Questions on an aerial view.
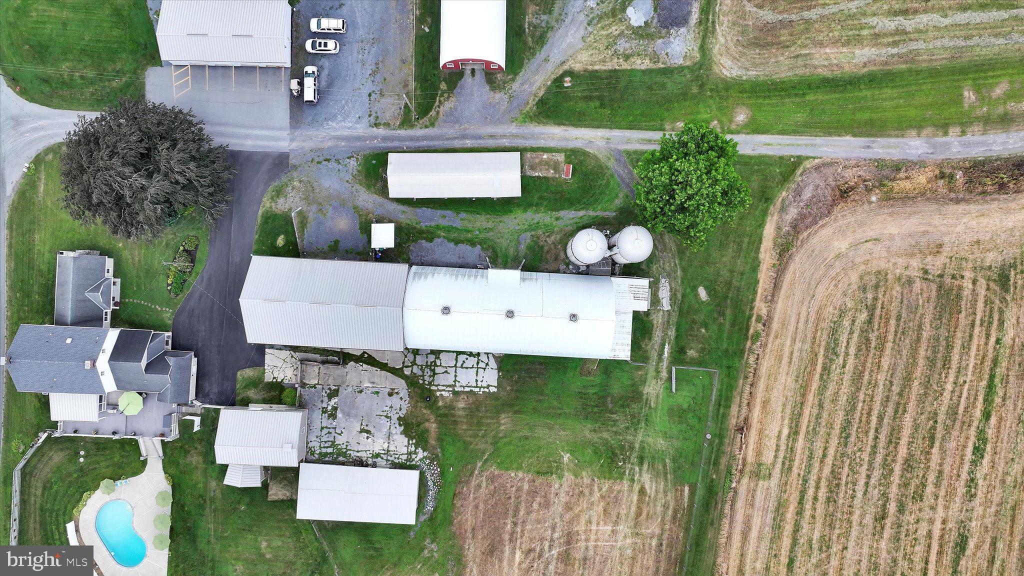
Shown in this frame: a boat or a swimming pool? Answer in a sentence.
The one in the frame is a swimming pool.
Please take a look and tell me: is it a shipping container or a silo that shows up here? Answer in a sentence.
I can see a silo in this picture.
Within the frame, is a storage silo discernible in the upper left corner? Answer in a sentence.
No, in the upper left corner there is no storage silo.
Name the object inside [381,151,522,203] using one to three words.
shed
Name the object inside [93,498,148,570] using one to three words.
swimming pool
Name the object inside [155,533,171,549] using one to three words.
umbrella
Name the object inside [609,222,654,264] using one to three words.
silo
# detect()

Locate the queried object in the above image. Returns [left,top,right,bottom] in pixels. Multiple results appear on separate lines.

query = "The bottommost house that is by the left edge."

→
[0,323,200,424]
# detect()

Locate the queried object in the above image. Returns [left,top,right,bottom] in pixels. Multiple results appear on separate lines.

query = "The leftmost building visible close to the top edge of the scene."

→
[156,0,292,68]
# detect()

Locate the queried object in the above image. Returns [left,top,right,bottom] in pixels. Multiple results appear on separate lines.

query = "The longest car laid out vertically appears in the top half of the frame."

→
[304,70,321,109]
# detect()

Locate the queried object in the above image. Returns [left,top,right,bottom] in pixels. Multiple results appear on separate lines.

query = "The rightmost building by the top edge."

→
[440,0,505,73]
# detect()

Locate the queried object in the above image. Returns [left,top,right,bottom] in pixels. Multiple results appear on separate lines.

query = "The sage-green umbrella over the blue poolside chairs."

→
[101,478,118,494]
